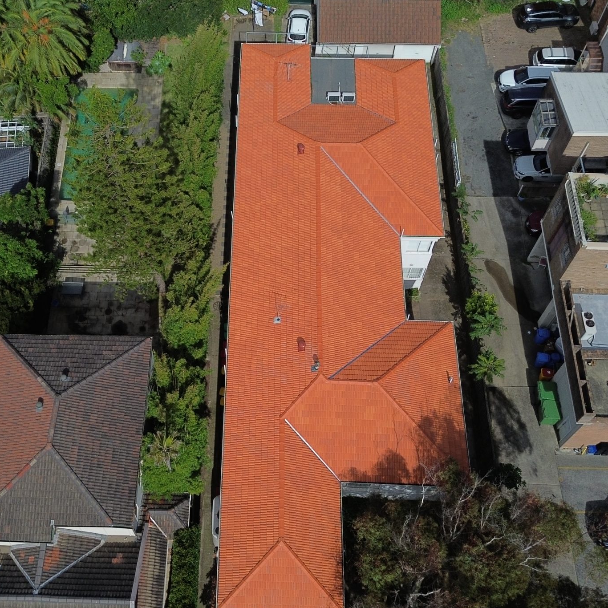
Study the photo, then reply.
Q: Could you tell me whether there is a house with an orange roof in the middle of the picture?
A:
Yes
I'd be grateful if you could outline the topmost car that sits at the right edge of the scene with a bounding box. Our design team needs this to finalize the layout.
[511,0,579,35]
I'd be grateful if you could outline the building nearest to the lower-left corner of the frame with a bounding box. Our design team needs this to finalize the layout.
[0,332,196,608]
